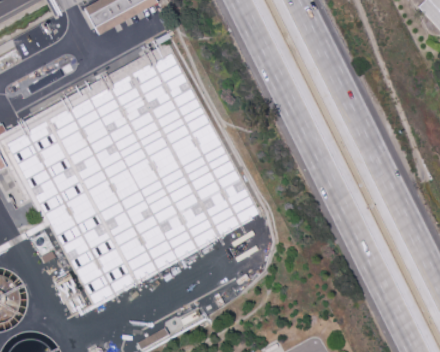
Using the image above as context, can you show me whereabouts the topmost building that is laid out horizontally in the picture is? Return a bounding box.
[85,0,160,35]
